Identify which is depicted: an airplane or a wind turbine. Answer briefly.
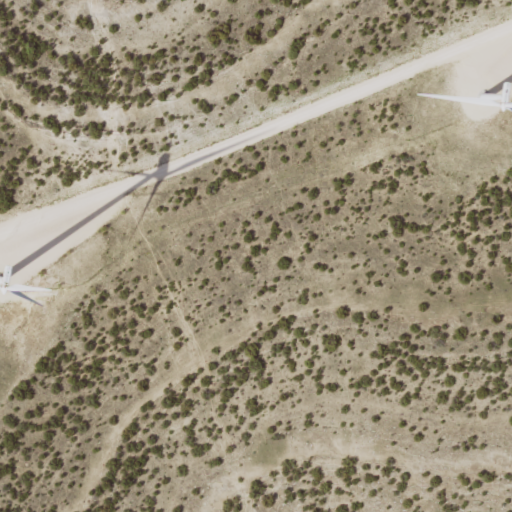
wind turbine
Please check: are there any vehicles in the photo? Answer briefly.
No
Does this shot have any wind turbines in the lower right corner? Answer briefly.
No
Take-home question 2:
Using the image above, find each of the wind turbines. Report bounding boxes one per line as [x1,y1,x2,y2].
[0,268,53,310]
[415,82,512,111]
